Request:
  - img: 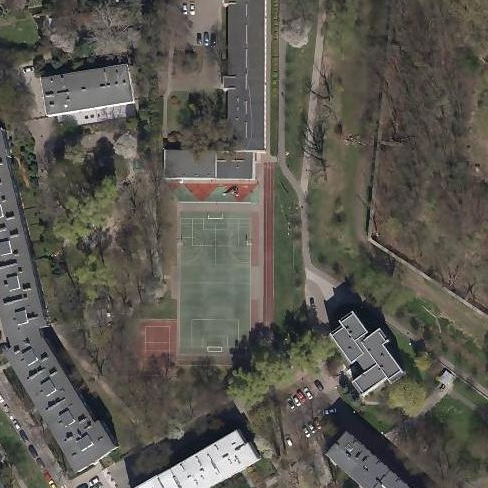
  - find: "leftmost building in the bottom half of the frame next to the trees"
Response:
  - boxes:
[0,127,115,476]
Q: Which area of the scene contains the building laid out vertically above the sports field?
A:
top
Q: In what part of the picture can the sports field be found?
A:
center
